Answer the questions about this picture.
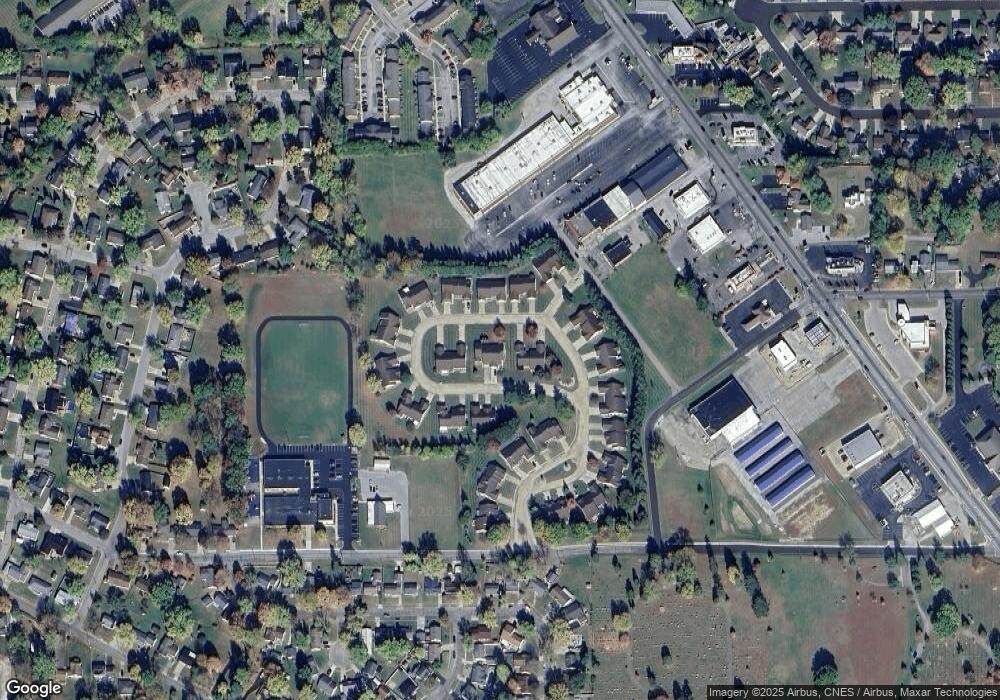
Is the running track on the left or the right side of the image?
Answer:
left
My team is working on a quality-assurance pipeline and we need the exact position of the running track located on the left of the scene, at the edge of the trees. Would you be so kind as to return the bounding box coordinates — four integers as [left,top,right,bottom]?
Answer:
[256,315,353,444]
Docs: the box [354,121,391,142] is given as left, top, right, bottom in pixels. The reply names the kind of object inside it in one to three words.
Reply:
building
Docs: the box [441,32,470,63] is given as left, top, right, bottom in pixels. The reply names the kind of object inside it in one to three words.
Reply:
building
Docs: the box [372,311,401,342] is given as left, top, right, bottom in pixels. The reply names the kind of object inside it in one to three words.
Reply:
house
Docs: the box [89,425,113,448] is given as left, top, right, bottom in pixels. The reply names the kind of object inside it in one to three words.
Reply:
house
